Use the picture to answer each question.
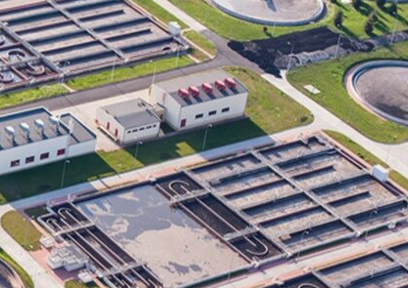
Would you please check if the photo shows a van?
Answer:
No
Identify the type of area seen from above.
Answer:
industrial area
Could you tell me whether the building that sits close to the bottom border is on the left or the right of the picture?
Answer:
left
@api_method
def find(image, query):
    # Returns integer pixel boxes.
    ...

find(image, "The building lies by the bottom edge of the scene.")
[33,244,86,274]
